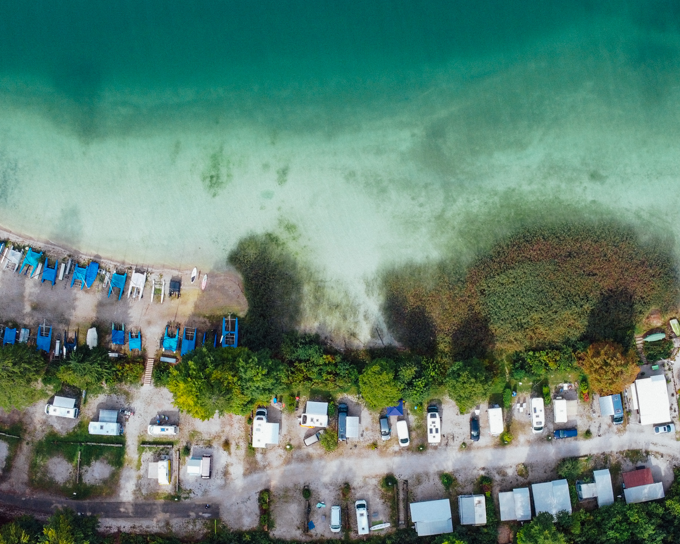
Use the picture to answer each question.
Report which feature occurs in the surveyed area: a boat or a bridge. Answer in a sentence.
I can see a boat in this picture.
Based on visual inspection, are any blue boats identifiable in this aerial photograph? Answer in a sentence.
Yes, the image includes a blue boat.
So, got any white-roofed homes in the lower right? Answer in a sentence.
Yes, a white-roofed home is visible in the lower right.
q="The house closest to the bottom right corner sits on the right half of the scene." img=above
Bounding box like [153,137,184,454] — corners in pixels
[619,465,664,504]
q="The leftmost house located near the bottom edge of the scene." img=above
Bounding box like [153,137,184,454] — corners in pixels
[410,498,453,536]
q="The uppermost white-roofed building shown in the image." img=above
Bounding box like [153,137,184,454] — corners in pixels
[628,375,671,425]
